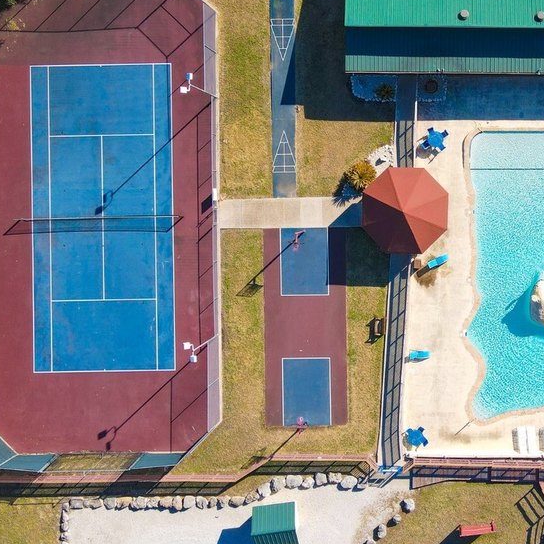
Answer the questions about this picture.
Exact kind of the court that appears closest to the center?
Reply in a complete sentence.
I'd identify the court that appears closest to the center as a basketball court.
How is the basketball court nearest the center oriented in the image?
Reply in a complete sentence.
The basketball court nearest the center is laid out up and down.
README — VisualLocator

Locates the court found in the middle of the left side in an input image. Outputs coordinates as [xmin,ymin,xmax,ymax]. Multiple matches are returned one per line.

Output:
[0,0,223,456]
